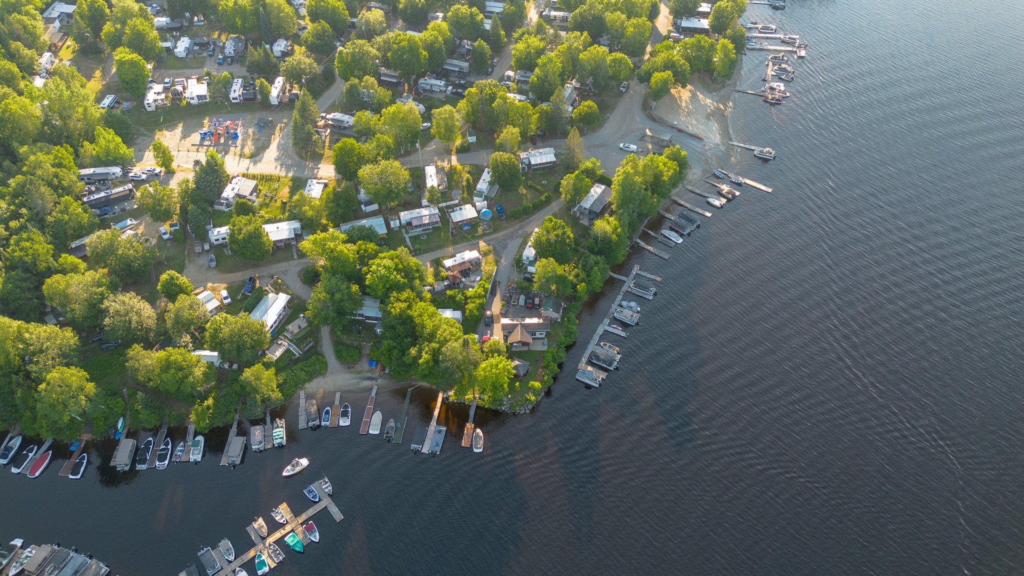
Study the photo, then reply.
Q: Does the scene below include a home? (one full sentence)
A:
Yes, the picture does show a home.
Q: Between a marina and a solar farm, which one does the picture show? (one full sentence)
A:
The picture captures a marina.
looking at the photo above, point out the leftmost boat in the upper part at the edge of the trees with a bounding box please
[110,217,134,229]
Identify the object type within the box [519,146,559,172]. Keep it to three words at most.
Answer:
house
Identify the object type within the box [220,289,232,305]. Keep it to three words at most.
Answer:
vehicle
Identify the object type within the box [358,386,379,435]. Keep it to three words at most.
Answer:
pier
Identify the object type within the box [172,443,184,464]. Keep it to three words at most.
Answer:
boat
